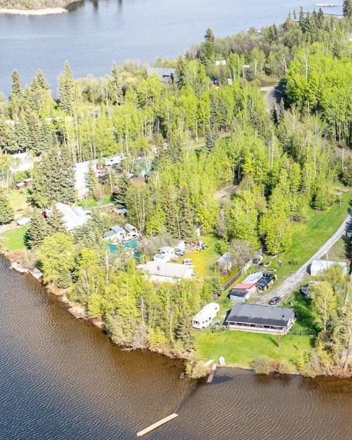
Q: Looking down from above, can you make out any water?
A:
Yes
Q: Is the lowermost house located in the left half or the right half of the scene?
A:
right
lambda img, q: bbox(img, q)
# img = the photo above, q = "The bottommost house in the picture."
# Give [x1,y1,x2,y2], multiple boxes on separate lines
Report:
[225,304,300,339]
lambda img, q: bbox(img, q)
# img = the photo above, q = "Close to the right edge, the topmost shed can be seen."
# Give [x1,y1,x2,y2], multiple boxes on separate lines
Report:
[312,259,351,278]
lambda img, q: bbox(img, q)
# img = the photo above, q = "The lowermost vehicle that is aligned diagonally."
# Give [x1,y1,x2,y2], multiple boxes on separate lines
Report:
[193,303,217,330]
